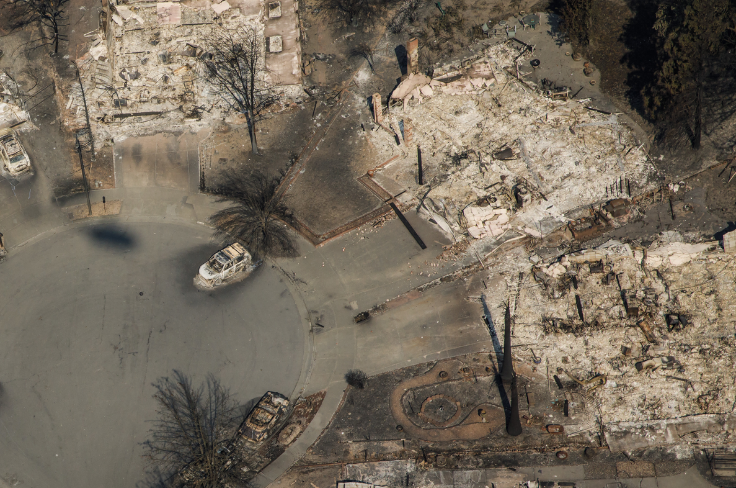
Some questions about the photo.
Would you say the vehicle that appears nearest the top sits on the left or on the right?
left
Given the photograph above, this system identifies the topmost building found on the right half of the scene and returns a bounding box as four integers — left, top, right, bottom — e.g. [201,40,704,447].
[360,30,670,240]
